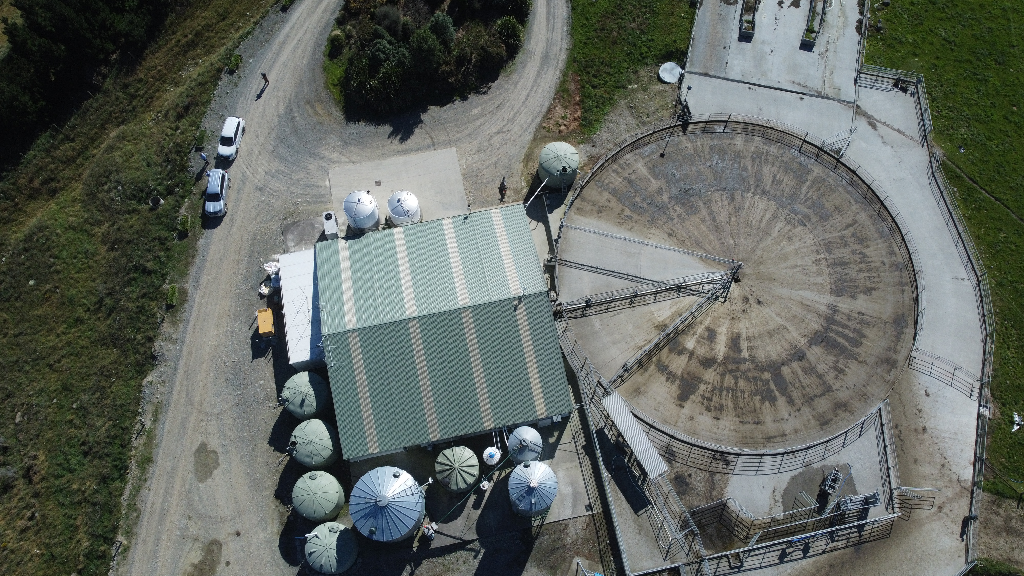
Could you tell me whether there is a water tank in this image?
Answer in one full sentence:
Yes, the frame does contain a water tank.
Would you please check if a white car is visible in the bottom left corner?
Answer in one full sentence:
No, the scene shows no white car in the bottom left corner.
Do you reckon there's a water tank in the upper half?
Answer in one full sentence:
Yes, a water tank appears in the upper half.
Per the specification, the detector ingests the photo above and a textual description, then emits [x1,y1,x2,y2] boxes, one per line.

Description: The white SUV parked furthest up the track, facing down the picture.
[215,117,246,163]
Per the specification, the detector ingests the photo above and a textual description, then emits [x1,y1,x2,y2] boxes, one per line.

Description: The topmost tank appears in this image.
[527,142,582,205]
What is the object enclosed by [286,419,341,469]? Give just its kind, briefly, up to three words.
water tank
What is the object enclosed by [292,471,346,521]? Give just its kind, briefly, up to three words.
water tank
